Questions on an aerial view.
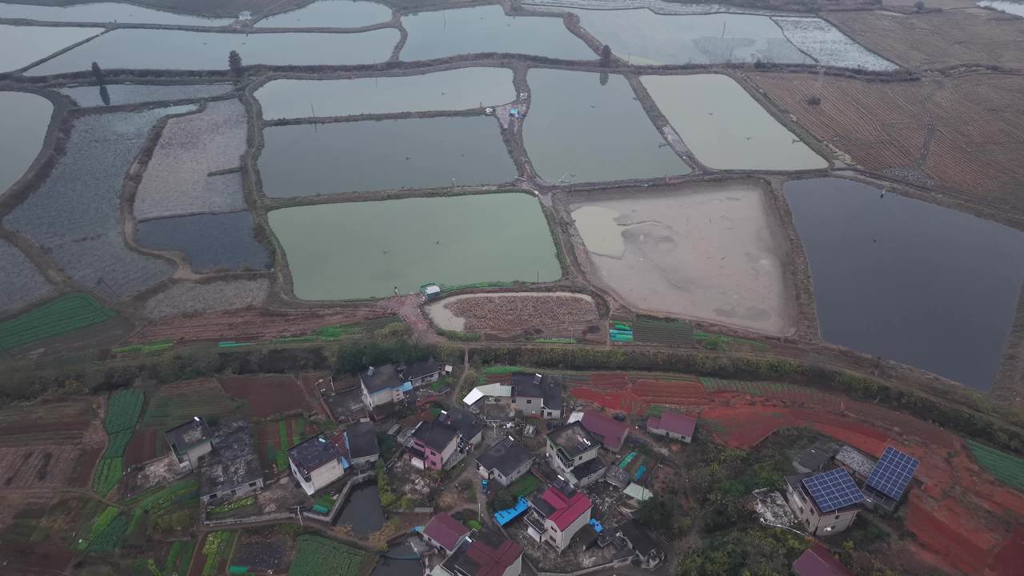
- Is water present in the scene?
Yes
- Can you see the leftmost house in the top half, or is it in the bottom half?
bottom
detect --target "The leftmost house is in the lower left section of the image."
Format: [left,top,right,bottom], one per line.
[160,417,214,477]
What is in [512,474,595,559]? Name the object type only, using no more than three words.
house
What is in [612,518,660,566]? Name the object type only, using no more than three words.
shed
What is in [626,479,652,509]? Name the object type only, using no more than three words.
shed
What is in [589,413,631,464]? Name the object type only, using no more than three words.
barn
